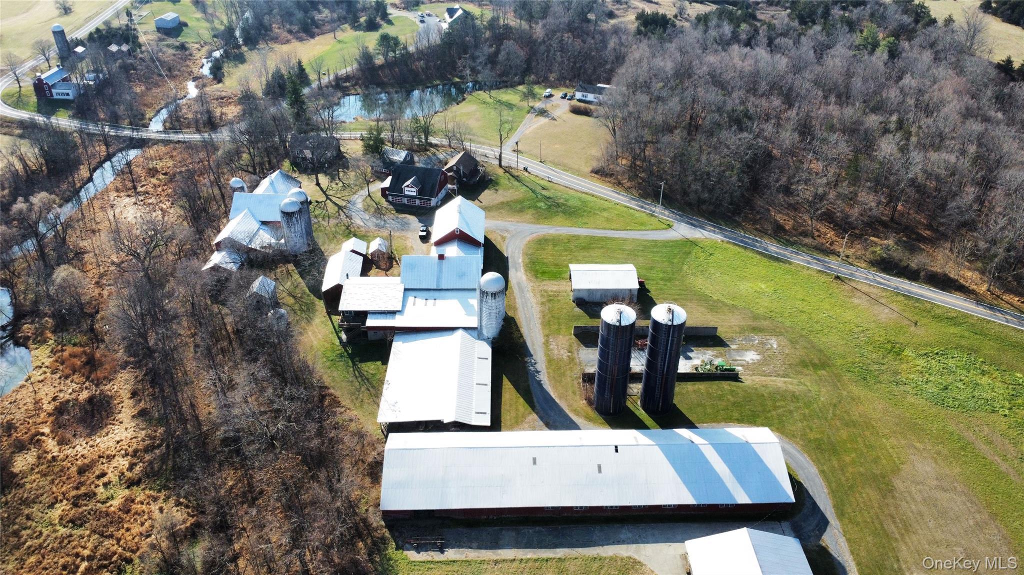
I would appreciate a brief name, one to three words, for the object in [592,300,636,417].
silo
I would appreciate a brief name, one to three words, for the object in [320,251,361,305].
shed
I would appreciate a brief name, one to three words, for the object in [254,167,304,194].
barn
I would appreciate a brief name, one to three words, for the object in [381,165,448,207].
barn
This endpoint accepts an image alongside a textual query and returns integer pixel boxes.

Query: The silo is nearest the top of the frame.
[52,19,77,58]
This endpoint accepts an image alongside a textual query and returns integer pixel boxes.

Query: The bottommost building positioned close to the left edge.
[30,64,81,100]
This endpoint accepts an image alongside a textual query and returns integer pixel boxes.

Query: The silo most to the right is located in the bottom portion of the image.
[639,299,688,416]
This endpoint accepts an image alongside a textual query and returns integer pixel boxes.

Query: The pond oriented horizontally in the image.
[325,80,512,126]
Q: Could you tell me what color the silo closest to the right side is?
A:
black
